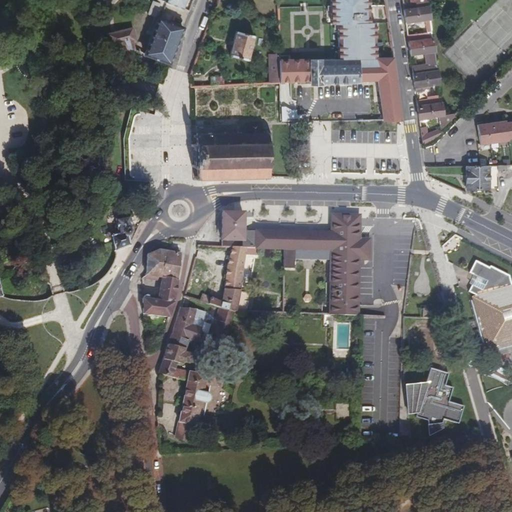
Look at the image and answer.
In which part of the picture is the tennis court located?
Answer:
top right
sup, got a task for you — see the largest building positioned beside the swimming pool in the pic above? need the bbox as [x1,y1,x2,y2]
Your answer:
[255,212,372,314]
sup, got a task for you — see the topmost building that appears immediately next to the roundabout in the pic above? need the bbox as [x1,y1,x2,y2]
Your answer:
[199,142,274,182]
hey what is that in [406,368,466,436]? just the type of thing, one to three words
building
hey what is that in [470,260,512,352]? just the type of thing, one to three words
building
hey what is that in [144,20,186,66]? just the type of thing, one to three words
house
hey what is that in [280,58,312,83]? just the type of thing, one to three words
house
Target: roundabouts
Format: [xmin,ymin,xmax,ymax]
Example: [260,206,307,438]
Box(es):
[157,184,214,237]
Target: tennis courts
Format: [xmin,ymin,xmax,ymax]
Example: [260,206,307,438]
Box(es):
[444,0,512,81]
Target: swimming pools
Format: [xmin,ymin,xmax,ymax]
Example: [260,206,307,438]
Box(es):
[333,322,352,358]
